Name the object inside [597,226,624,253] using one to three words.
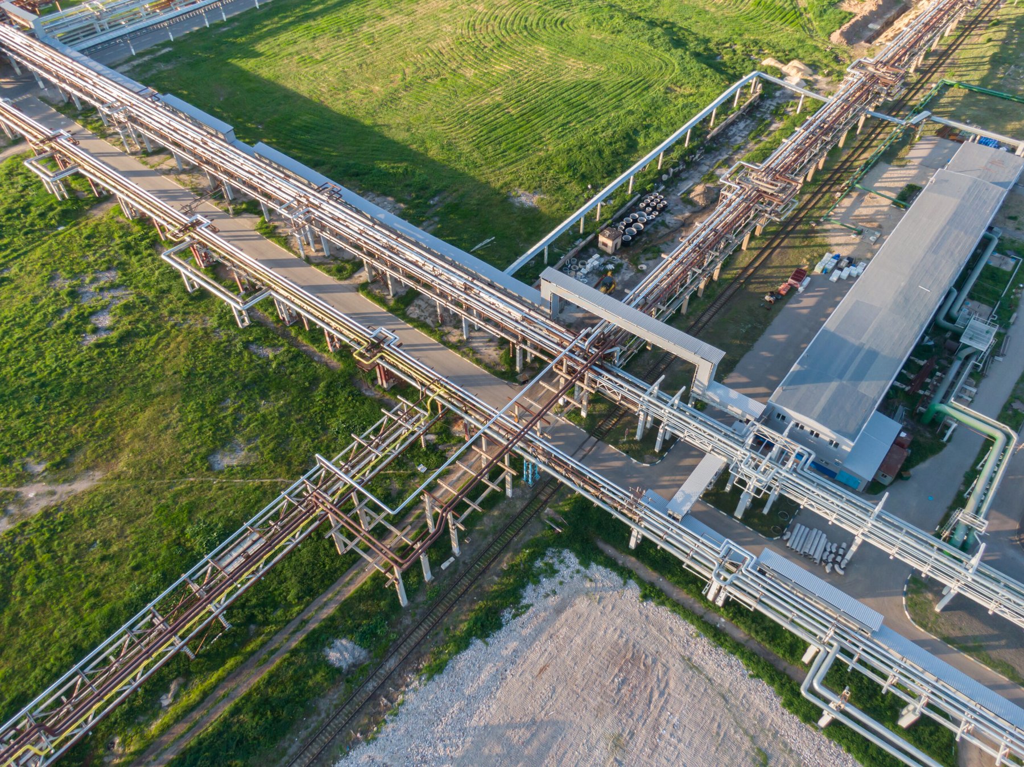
shed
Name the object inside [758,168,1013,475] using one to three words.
building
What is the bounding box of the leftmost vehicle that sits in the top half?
[598,259,617,294]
